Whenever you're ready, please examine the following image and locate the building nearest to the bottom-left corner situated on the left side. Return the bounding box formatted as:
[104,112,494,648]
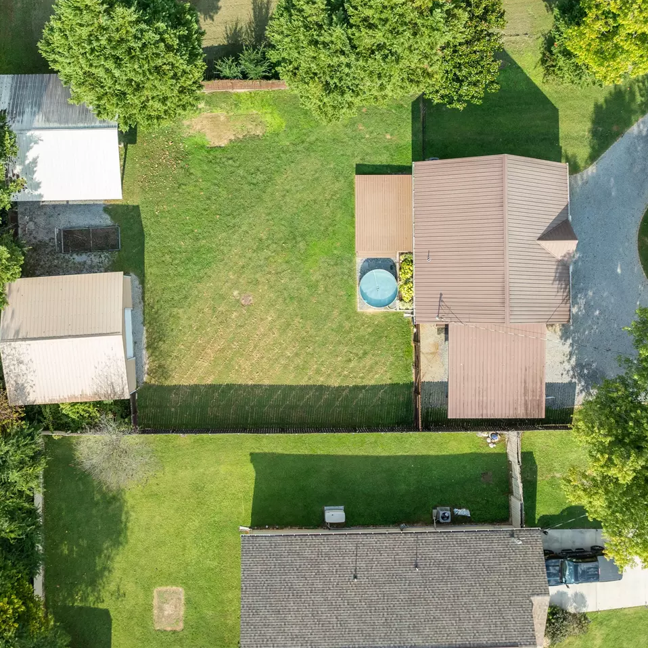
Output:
[3,273,138,405]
